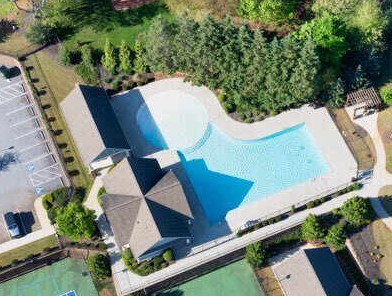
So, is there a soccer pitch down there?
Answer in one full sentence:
No, this view has no soccer pitch in it.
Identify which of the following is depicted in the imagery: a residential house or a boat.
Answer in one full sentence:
There is a residential house in the scene.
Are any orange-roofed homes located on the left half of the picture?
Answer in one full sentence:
No, I see no orange-roofed home on the left half of the picture.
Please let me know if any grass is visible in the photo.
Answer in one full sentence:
Yes, there is grass in the image.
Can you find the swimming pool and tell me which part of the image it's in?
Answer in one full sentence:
The swimming pool is located in the center region of the scene.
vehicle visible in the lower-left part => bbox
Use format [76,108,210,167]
[1,210,22,240]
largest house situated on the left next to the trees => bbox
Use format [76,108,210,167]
[100,157,194,263]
